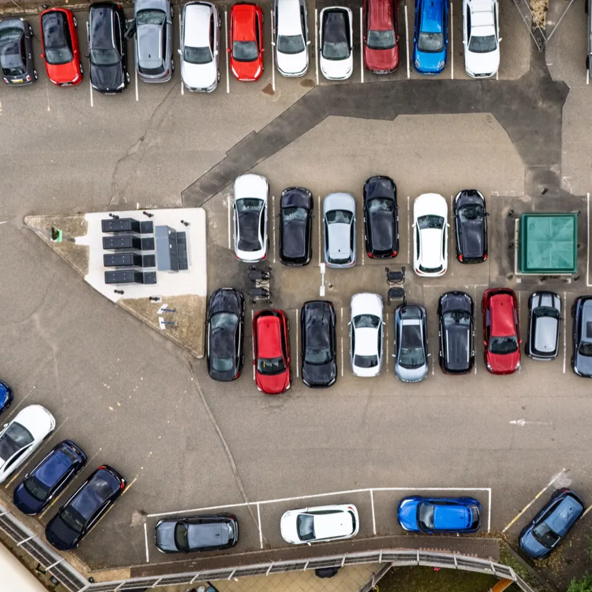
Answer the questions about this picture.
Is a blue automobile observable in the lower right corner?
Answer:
Yes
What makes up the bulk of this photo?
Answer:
paved ground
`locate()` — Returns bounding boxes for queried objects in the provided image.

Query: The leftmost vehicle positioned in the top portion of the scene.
[0,21,37,88]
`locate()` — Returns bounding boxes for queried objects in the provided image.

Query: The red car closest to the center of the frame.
[249,309,292,394]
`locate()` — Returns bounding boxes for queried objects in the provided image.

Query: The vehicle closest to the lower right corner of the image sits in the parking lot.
[517,483,588,563]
